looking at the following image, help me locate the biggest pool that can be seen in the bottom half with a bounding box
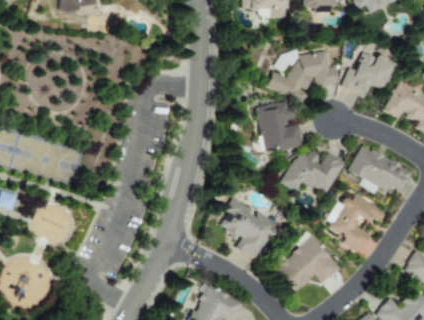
[248,192,269,210]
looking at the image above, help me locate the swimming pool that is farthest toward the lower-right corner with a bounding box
[296,194,315,207]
